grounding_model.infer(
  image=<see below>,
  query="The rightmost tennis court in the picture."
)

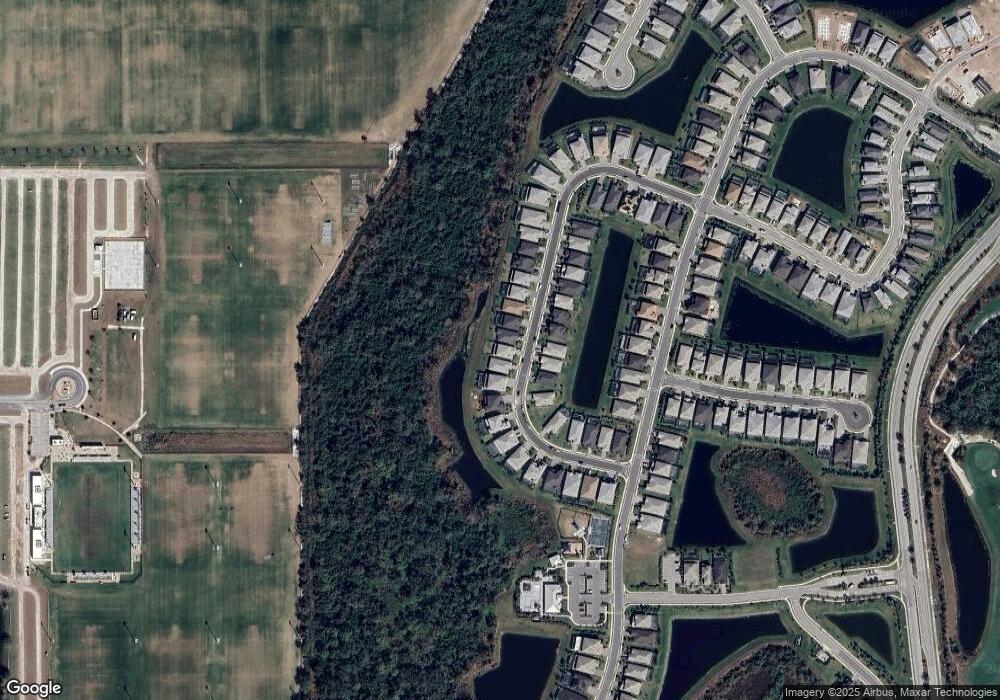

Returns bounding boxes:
[588,516,610,548]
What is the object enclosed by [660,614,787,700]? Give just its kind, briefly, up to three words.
pond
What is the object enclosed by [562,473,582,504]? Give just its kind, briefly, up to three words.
house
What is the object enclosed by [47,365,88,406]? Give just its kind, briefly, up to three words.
roundabout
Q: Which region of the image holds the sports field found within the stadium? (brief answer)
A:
bottom left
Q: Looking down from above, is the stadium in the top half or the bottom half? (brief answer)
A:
bottom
